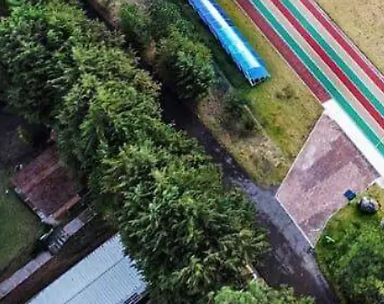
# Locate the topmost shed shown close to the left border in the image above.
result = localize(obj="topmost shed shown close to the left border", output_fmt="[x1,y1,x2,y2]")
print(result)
[8,153,86,235]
